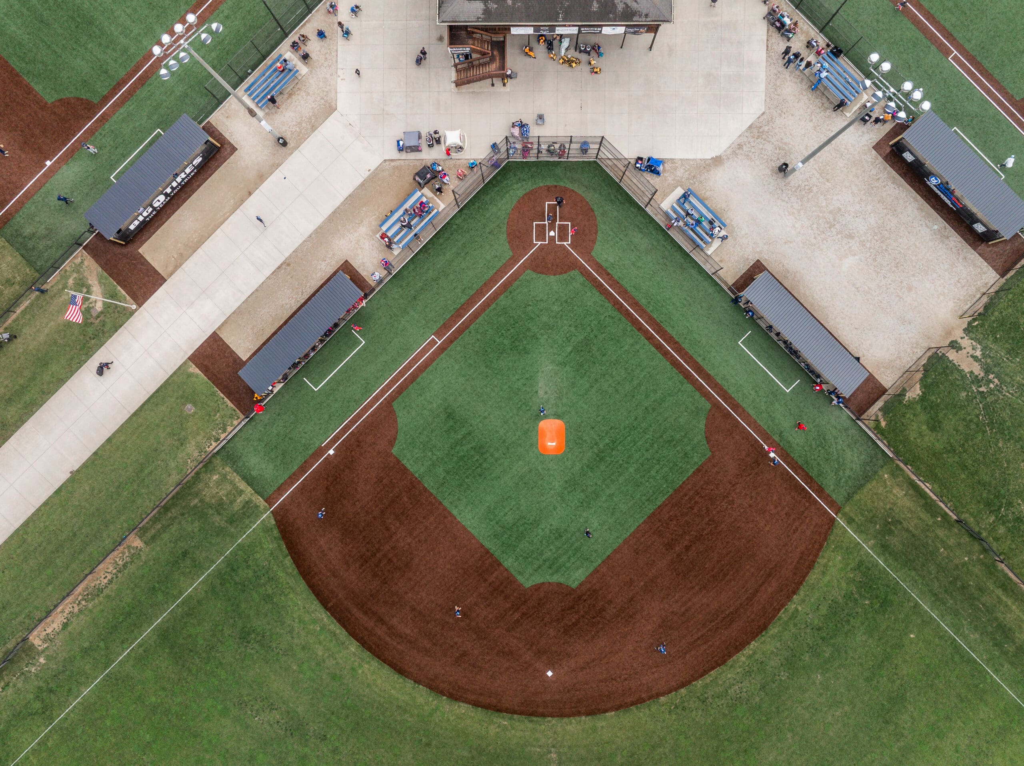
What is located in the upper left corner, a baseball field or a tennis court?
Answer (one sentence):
The one visible in the upper left corner is a baseball field.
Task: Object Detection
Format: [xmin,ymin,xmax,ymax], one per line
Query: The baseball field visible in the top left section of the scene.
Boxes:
[0,0,321,280]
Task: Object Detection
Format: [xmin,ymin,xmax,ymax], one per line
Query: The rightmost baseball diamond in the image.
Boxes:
[789,0,1024,234]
